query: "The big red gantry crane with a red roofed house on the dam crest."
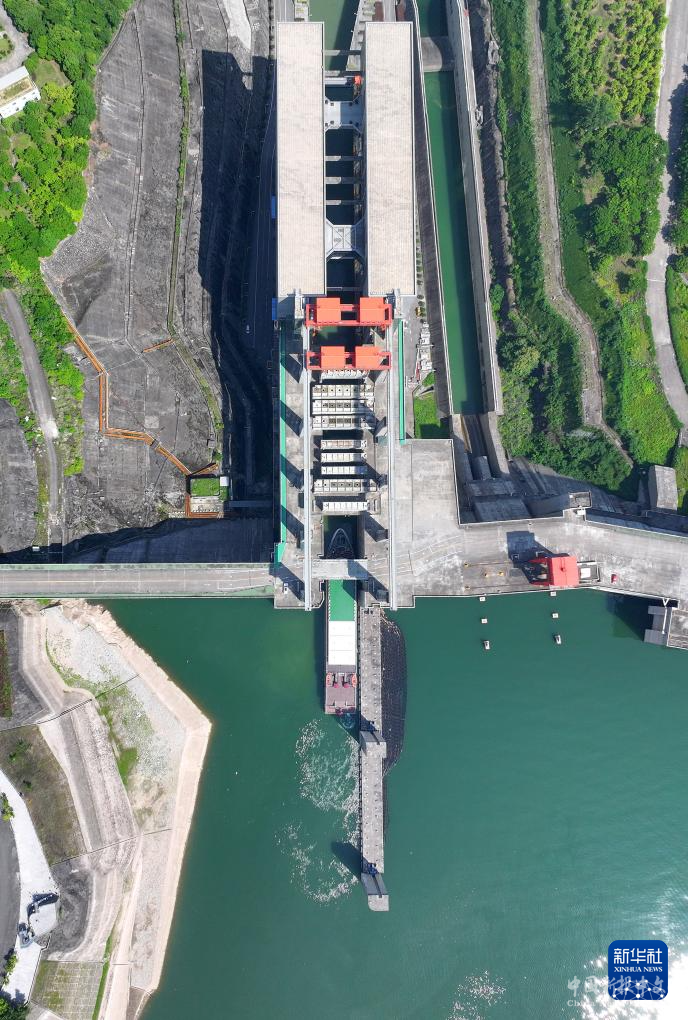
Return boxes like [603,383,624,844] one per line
[522,556,601,586]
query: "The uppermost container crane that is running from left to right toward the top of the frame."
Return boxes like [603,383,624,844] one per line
[305,298,392,327]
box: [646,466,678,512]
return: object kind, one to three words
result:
building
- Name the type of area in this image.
port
